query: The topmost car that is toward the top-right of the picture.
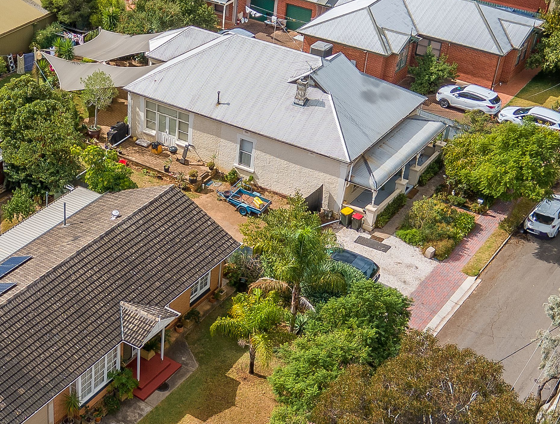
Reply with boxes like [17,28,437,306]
[436,86,504,119]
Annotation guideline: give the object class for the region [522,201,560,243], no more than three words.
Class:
car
